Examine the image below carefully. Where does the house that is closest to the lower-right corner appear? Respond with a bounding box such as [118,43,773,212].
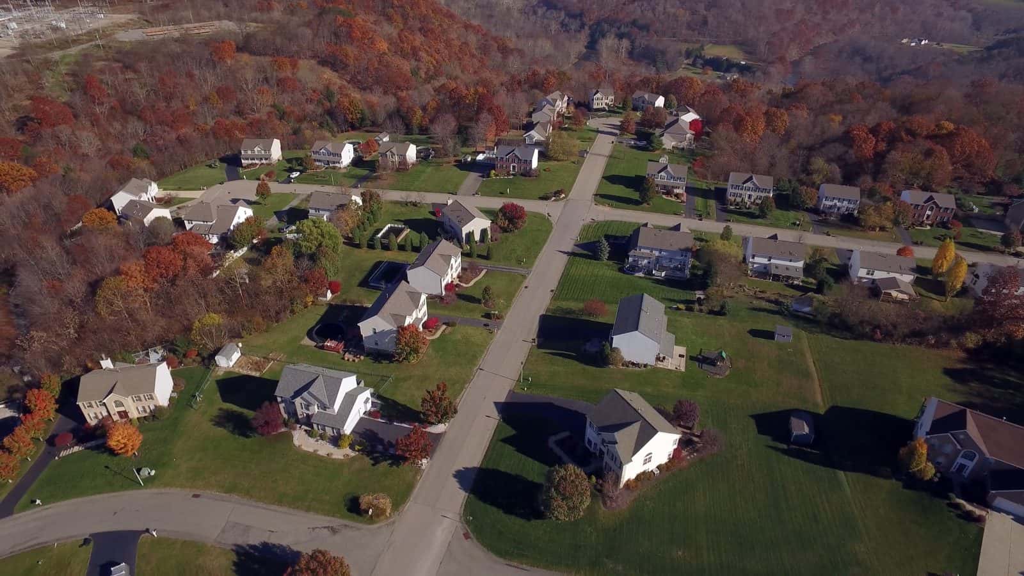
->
[886,389,1024,529]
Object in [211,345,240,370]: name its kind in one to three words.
shed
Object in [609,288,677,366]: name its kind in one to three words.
house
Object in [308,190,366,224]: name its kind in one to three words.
house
